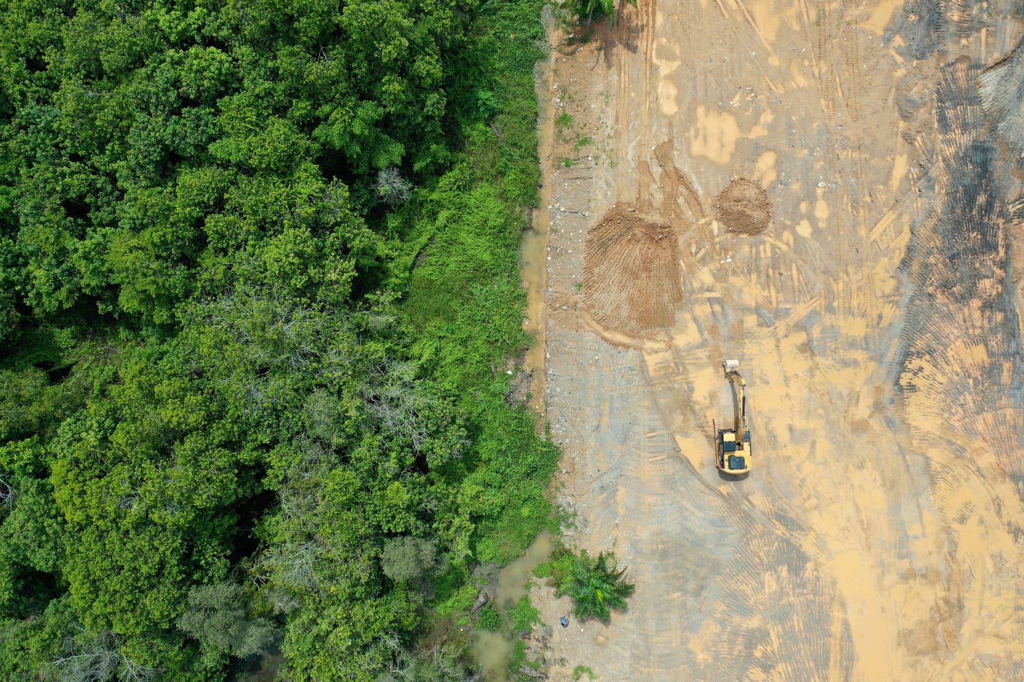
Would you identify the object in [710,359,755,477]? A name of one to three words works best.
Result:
work vehicle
